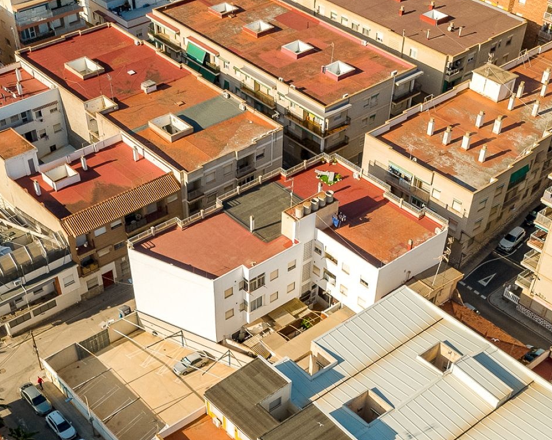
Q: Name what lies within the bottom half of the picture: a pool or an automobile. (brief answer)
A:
automobile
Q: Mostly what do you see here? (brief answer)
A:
buildings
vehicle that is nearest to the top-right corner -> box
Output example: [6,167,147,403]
[521,202,550,228]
